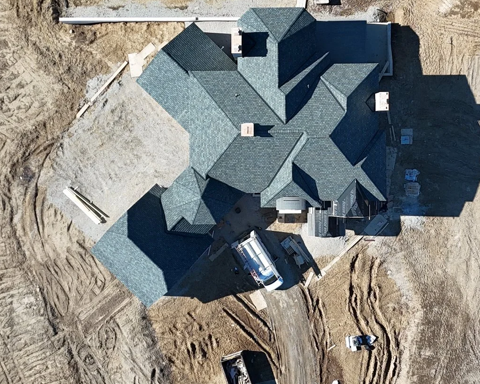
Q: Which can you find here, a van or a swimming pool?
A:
van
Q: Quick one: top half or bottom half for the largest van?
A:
bottom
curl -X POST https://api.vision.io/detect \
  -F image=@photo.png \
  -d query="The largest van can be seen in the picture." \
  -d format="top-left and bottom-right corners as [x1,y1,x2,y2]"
[230,226,282,289]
